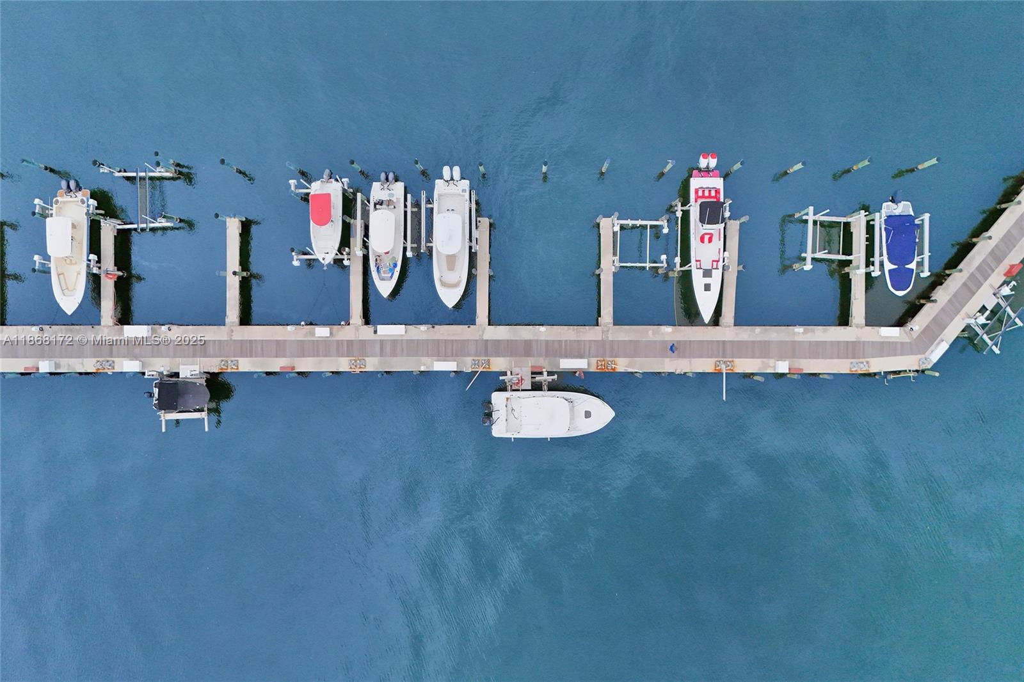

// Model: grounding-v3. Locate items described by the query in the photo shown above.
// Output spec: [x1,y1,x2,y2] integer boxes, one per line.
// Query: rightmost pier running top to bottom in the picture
[848,215,866,327]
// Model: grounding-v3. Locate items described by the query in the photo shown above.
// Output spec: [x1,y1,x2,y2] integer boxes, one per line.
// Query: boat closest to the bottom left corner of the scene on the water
[145,379,212,411]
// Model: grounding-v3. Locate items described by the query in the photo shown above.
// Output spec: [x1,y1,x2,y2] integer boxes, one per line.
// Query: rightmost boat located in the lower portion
[482,391,616,438]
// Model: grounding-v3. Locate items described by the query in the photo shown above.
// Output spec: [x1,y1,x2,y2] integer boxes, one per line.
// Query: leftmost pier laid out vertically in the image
[101,223,119,326]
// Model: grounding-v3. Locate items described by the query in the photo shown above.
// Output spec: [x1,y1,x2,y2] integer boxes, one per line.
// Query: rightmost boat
[879,191,920,297]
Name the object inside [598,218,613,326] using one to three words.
pier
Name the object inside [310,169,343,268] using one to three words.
boat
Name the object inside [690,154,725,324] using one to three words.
boat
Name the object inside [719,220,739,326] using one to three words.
pier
